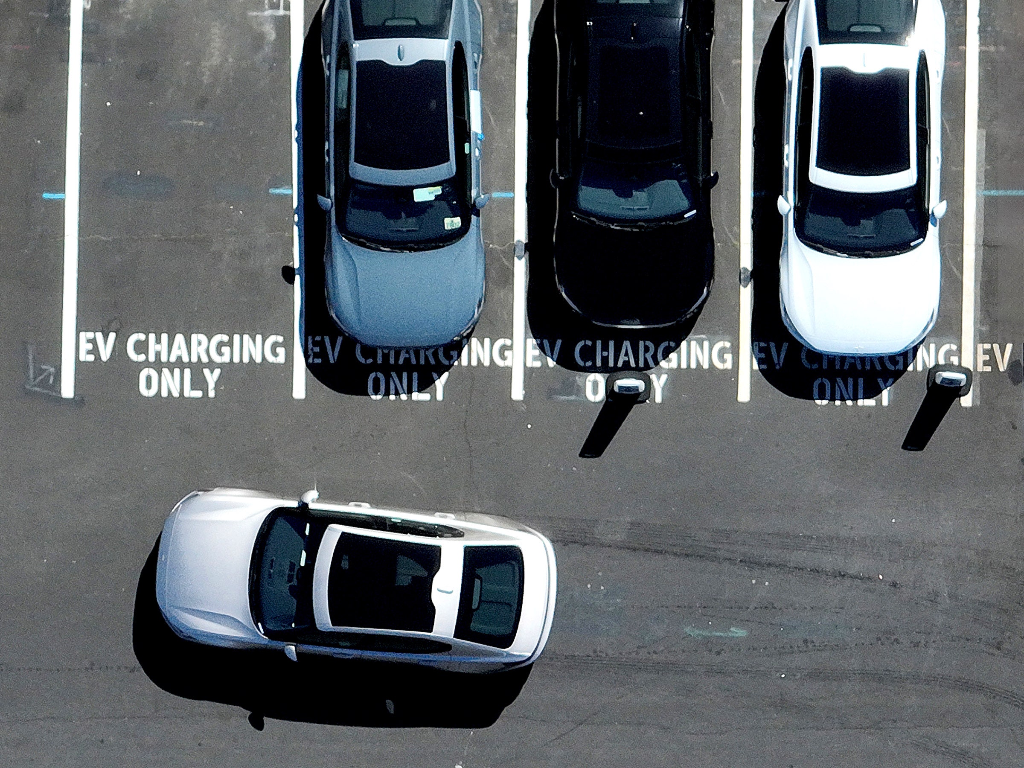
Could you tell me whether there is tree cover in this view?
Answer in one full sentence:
No, the picture contains no tree cover.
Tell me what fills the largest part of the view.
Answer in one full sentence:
For the most part, this view shows paved ground.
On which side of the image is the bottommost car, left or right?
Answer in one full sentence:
The bottommost car is on the left side of the image.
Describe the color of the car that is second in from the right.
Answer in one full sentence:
In this view, the car that is second in from the right is black.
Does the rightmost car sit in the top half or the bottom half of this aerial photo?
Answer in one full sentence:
The rightmost car sits in the top half of the picture.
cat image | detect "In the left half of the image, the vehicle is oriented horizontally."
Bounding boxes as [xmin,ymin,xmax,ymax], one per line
[154,485,560,674]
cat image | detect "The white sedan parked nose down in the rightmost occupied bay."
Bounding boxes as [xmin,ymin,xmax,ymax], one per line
[775,0,948,356]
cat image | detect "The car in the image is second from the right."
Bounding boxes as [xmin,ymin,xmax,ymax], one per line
[547,0,721,329]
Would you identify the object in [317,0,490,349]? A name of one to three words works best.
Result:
car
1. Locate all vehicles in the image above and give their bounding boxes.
[547,0,721,329]
[775,0,948,356]
[317,0,490,349]
[154,485,560,674]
